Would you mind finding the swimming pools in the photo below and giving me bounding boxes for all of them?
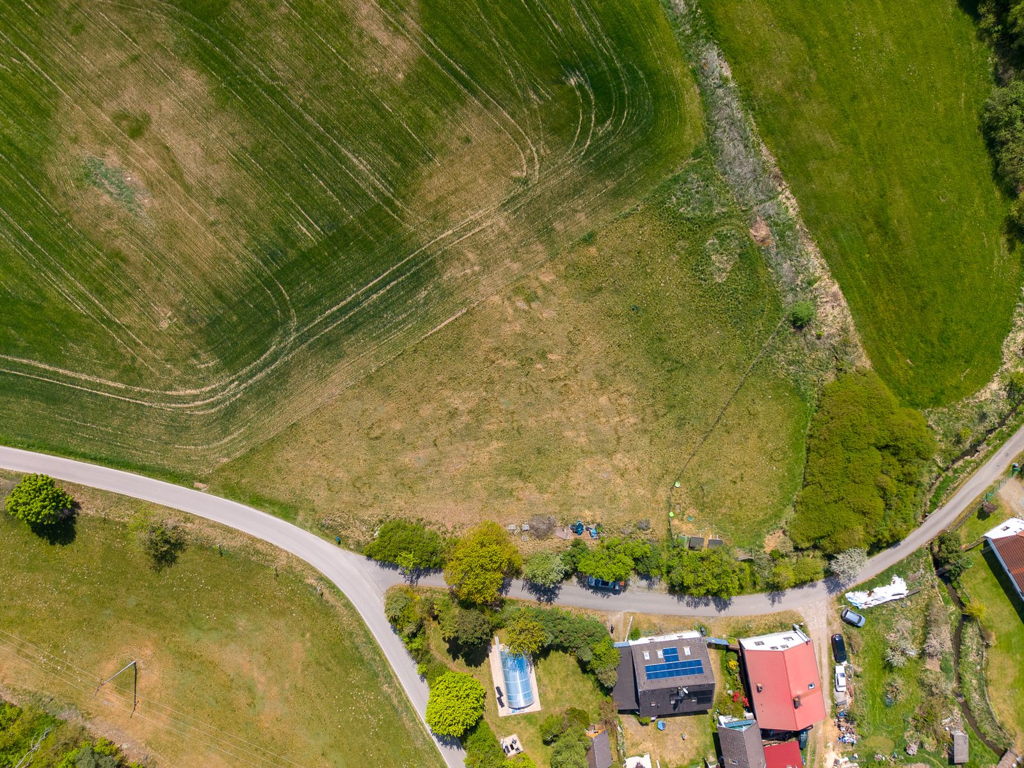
[503,647,533,706]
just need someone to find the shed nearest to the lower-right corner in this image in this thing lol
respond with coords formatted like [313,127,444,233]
[946,728,969,763]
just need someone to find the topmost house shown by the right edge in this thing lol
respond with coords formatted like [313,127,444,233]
[984,520,1024,603]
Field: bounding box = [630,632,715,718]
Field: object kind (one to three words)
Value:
house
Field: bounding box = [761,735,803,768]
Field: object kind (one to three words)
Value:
shed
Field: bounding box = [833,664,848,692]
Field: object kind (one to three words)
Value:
car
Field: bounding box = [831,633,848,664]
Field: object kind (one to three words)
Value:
car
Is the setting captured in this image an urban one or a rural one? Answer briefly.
rural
